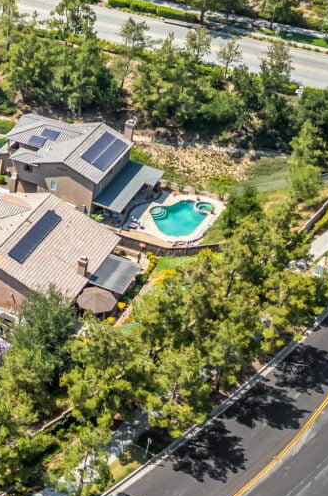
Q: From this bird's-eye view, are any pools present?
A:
Yes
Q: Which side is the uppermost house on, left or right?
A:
left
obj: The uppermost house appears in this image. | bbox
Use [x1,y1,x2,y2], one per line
[0,113,165,226]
